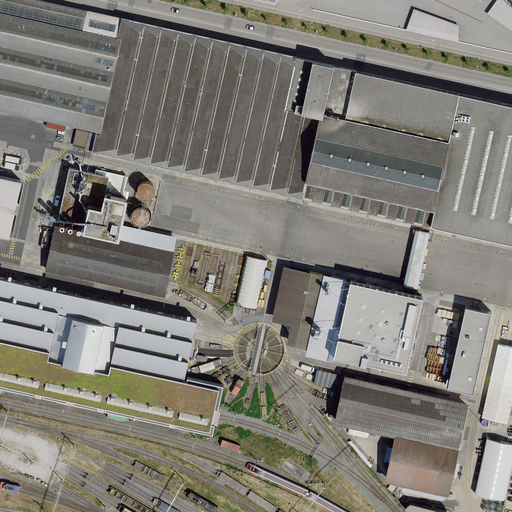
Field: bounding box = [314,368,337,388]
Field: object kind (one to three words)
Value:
shed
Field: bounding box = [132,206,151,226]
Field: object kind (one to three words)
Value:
silo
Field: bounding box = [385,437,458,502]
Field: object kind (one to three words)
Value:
building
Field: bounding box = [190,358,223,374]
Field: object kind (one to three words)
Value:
vehicle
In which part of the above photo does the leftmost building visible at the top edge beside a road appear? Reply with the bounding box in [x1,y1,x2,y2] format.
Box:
[0,0,124,136]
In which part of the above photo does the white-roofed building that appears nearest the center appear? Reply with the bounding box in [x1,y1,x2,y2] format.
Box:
[238,255,268,309]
